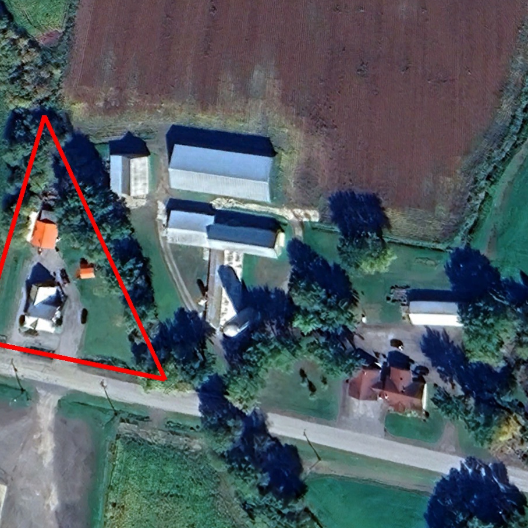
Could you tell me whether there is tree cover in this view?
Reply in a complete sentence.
Yes, some tree cover is visible.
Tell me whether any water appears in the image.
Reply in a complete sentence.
No, the picture contains no water.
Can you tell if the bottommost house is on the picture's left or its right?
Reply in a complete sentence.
You can find the bottommost house on the right side of the picture.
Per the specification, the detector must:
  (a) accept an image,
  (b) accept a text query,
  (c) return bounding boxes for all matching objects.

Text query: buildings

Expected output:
[31,208,61,250]
[23,279,63,334]
[75,266,97,279]
[408,300,467,326]
[166,207,283,260]
[348,364,429,413]
[168,142,278,203]
[110,152,151,196]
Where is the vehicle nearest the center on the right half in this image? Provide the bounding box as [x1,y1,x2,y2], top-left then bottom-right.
[389,338,405,350]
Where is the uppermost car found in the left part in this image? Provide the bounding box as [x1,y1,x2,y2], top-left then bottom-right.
[60,268,72,285]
